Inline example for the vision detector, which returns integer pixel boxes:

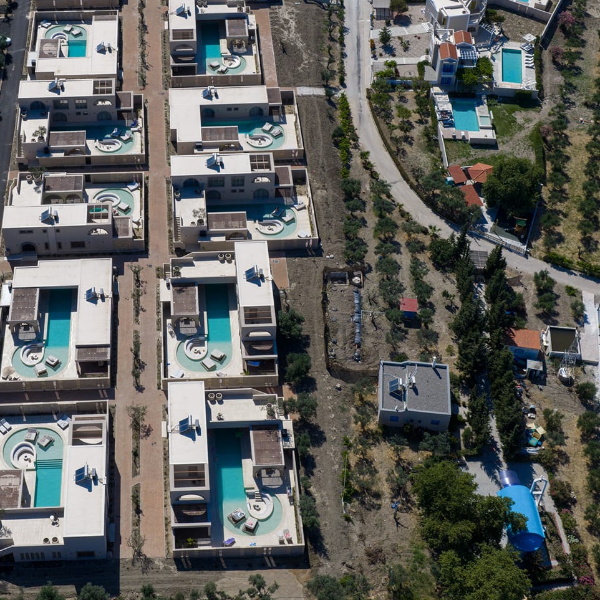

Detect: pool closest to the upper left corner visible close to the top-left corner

[42,22,88,57]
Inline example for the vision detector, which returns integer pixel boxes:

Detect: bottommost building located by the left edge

[0,411,111,566]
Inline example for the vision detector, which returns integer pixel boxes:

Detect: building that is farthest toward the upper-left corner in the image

[28,12,118,88]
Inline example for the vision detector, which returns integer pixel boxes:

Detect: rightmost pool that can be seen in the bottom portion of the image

[214,435,284,538]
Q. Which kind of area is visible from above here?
residential area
